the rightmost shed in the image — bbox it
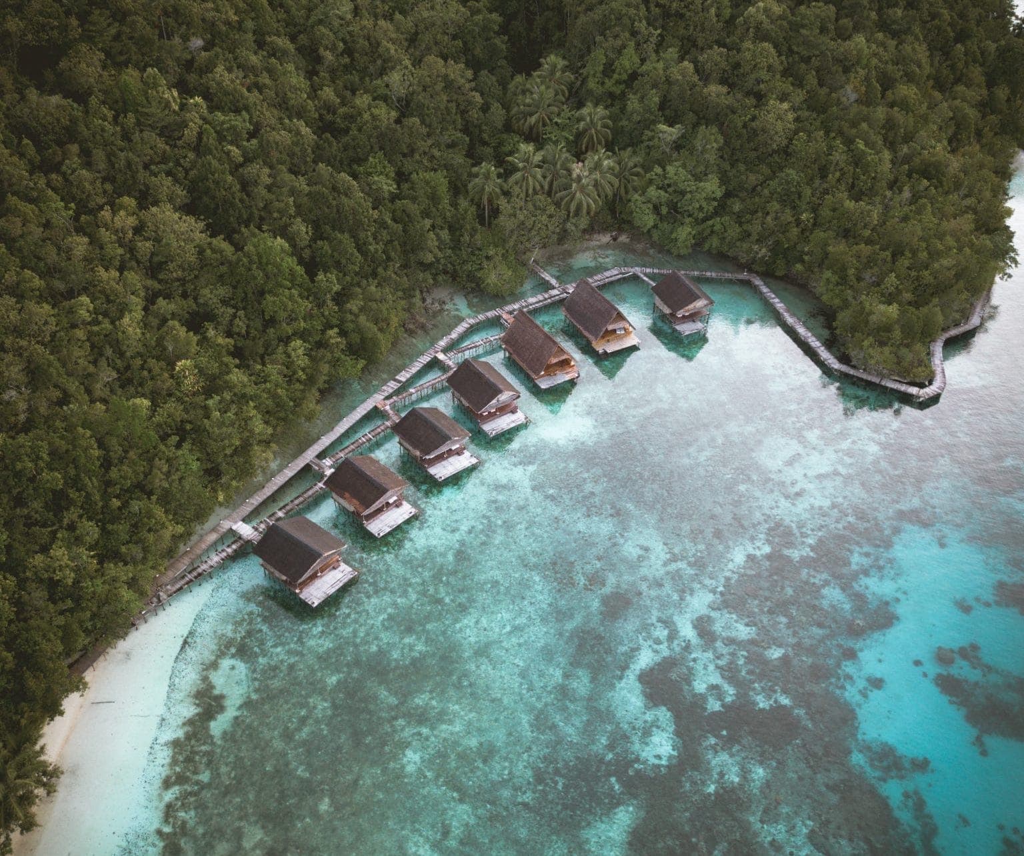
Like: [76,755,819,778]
[651,275,713,345]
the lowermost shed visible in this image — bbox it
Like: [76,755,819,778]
[254,515,362,611]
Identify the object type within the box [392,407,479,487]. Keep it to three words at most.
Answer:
shed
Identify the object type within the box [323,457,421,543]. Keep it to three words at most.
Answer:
shed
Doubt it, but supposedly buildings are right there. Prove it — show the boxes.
[651,275,713,345]
[564,280,641,359]
[323,457,421,543]
[254,515,362,611]
[392,407,479,487]
[446,364,529,442]
[502,311,584,396]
